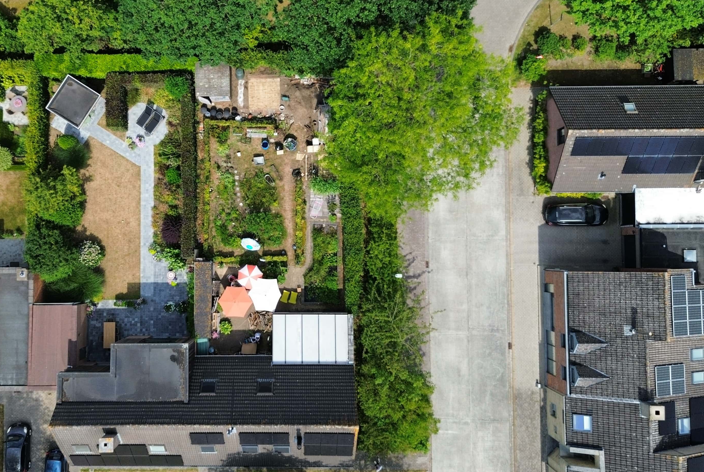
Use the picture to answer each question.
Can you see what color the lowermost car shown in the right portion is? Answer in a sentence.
The lowermost car shown in the right portion looks black in the image.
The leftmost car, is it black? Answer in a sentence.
Yes, black is the color of the leftmost car.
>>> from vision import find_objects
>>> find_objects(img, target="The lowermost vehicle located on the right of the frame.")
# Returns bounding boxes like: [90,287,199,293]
[544,196,606,227]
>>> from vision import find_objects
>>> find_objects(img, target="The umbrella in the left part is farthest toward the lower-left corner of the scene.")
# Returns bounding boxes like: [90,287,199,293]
[219,287,252,317]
